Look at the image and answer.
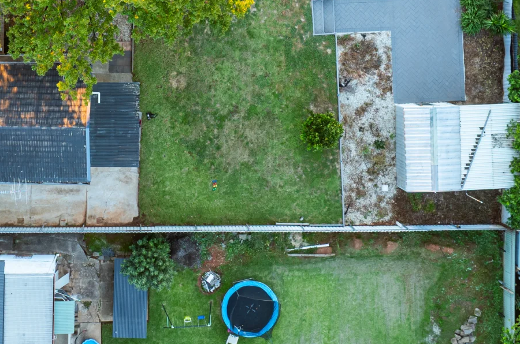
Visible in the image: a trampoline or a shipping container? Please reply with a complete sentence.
Looking from above, you can make out a trampoline.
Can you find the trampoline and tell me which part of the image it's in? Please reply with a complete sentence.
Look in the bottom portion of the view to spot the trampoline.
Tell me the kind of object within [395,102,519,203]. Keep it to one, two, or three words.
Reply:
shed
